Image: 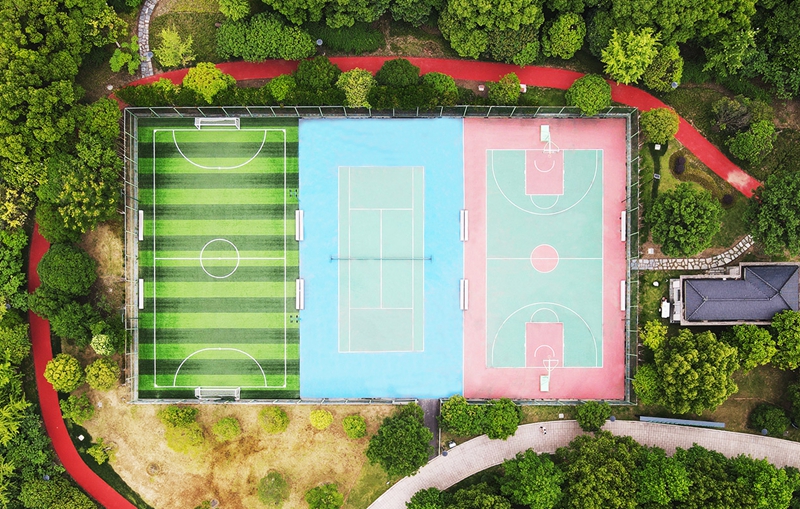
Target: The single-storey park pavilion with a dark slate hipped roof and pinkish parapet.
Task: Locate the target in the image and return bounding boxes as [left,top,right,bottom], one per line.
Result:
[667,263,800,324]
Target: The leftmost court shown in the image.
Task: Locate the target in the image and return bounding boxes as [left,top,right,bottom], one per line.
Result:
[299,118,463,399]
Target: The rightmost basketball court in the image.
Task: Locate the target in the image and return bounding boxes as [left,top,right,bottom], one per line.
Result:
[463,118,626,399]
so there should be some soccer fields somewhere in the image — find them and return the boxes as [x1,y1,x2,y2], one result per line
[138,118,299,399]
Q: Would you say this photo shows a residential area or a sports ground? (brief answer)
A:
sports ground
